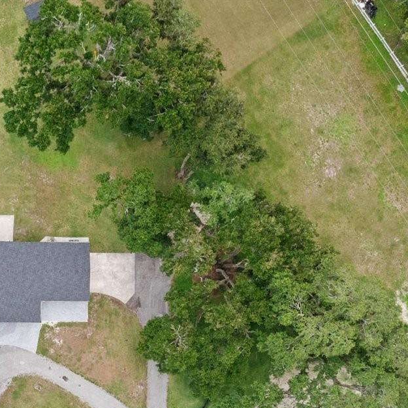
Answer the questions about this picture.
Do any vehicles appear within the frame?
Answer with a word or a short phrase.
No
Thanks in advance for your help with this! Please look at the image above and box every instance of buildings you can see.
[23,0,43,26]
[0,241,91,323]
